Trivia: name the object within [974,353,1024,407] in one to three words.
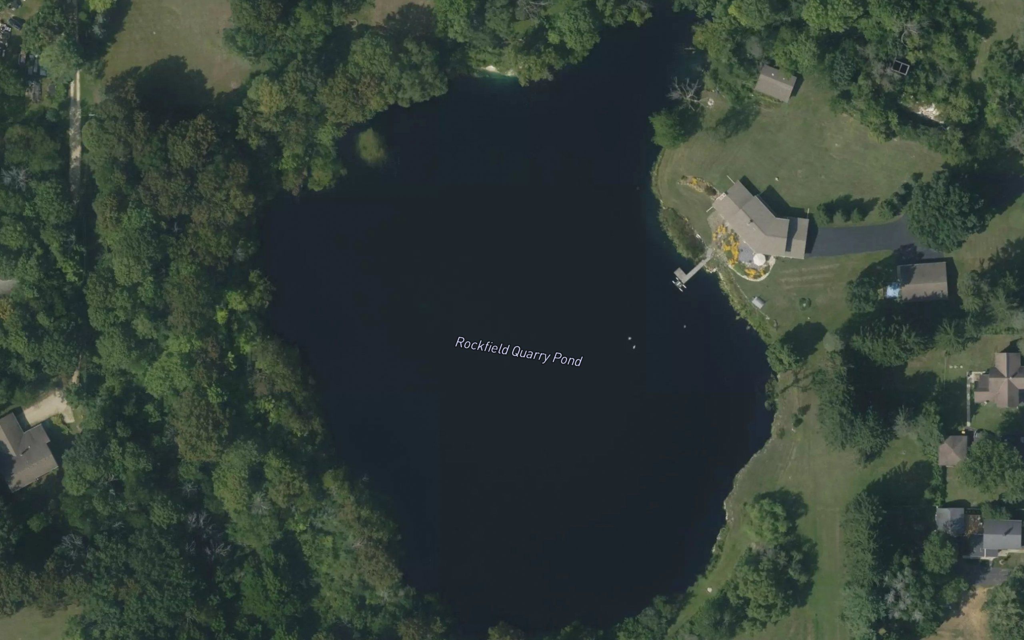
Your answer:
house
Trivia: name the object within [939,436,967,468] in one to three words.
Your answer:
shed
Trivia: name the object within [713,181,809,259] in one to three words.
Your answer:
house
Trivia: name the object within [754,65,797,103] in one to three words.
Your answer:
shed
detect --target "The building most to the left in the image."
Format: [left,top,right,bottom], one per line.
[0,413,58,492]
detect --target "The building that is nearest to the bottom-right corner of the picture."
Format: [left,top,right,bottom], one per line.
[962,520,1022,558]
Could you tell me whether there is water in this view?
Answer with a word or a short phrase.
Yes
